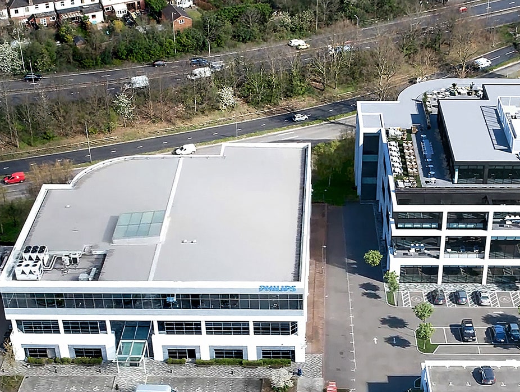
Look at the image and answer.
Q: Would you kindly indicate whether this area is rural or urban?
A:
urban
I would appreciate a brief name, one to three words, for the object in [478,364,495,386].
car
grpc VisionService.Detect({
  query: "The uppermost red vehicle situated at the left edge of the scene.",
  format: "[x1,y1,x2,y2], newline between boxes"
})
[1,170,25,184]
